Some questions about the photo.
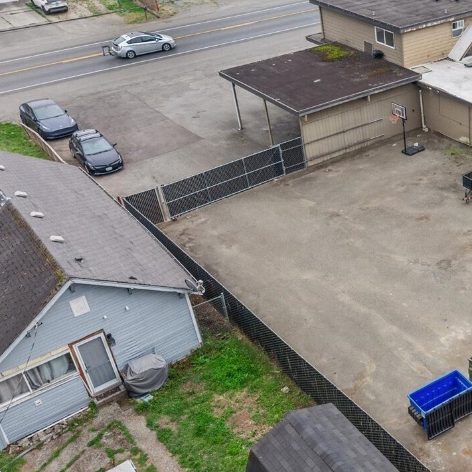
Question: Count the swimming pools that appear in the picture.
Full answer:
There are no swimming pools in this view.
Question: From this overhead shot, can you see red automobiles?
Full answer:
No, this view has no red automobile in it.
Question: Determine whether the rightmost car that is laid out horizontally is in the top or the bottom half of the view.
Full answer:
You can find the rightmost car that is laid out horizontally in the top half.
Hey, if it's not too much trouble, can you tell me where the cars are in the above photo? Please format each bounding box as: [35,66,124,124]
[32,0,66,13]
[60,127,123,173]
[104,31,177,58]
[21,92,79,137]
